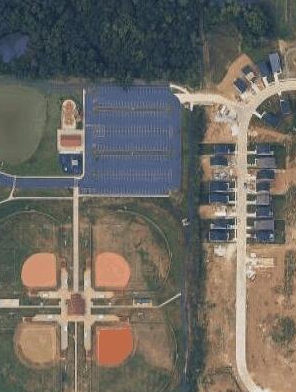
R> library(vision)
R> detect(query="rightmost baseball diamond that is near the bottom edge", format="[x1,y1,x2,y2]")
[90,321,177,392]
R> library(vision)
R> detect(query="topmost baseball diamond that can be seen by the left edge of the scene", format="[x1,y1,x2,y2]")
[0,203,63,293]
